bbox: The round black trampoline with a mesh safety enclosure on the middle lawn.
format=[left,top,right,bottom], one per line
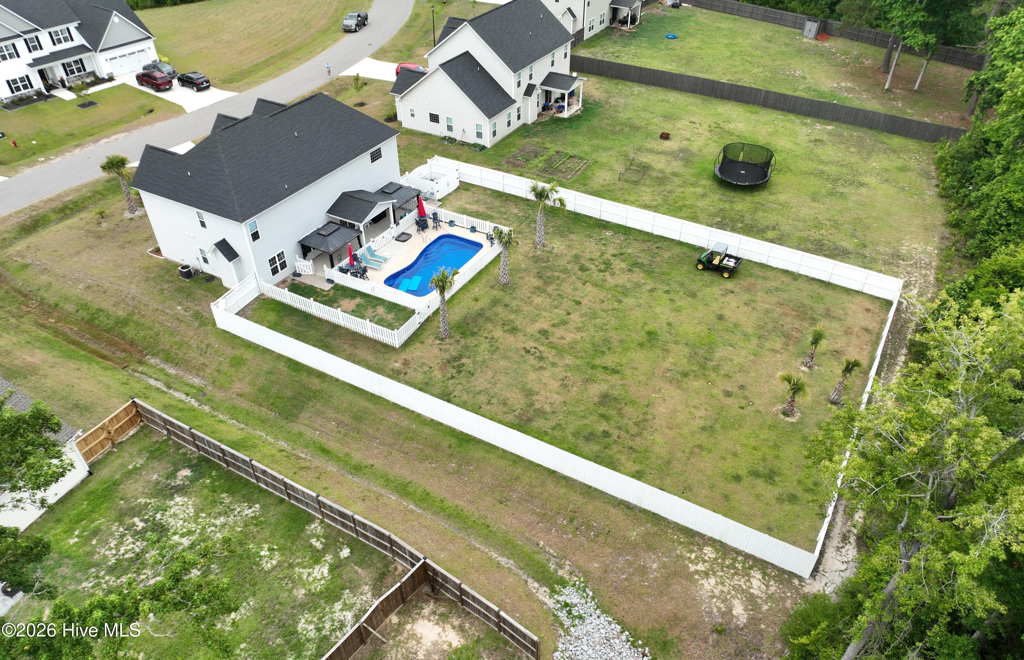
[716,145,770,193]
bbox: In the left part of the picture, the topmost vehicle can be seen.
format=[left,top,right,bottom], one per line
[341,12,369,31]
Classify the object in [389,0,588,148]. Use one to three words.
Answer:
house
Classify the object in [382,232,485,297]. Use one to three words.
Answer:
swimming pool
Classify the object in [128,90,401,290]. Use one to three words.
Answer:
house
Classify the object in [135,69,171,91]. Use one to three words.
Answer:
car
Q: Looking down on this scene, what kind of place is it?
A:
residential area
